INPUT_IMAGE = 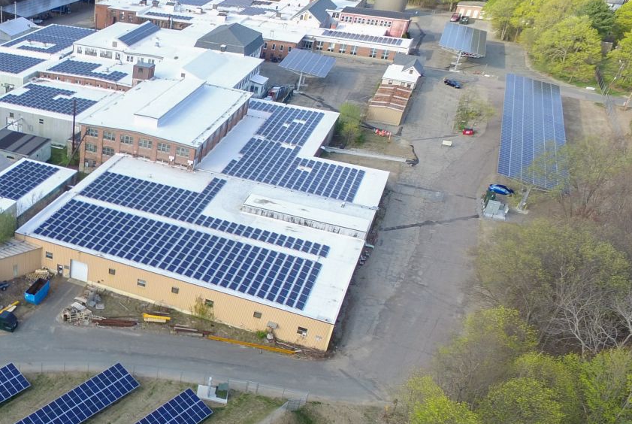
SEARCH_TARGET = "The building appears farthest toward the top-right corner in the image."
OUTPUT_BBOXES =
[456,4,500,20]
